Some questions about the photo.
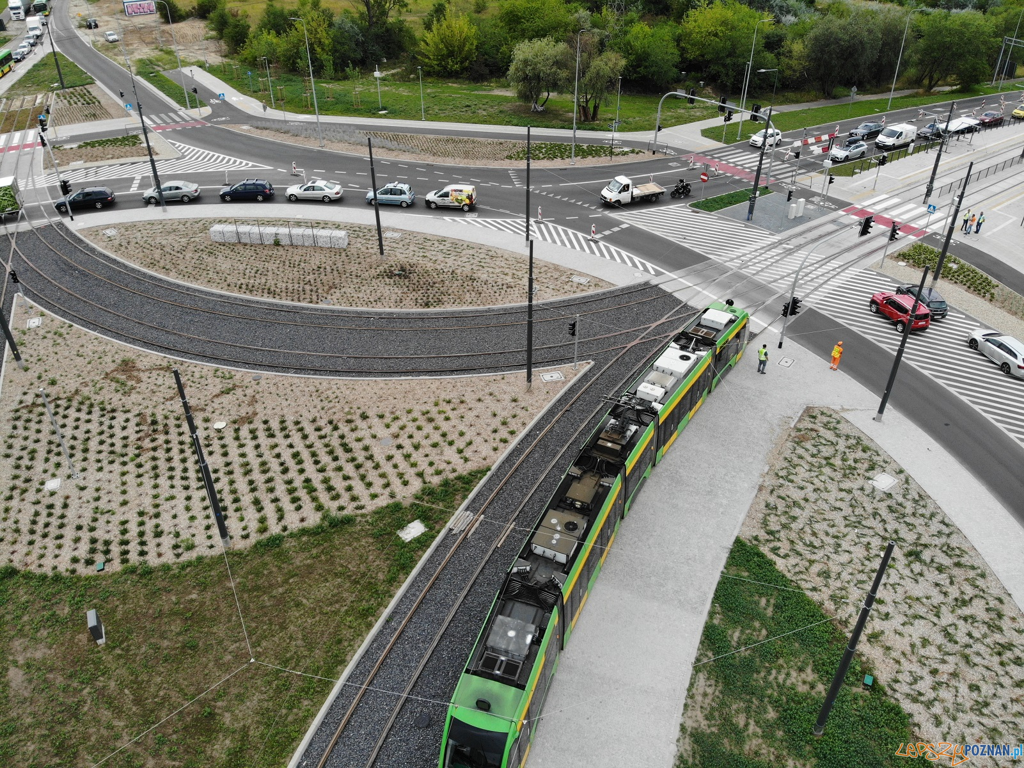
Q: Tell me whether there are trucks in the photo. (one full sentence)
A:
Yes, the image includes a truck.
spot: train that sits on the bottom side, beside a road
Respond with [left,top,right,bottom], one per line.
[444,289,757,768]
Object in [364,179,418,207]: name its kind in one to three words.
car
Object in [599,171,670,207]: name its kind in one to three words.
truck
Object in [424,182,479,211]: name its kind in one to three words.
van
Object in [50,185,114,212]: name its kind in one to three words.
car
